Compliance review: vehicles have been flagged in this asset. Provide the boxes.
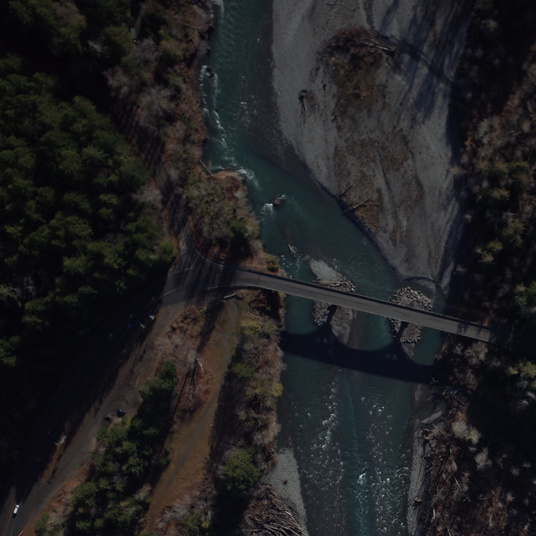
[118,408,125,416]
[13,504,20,514]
